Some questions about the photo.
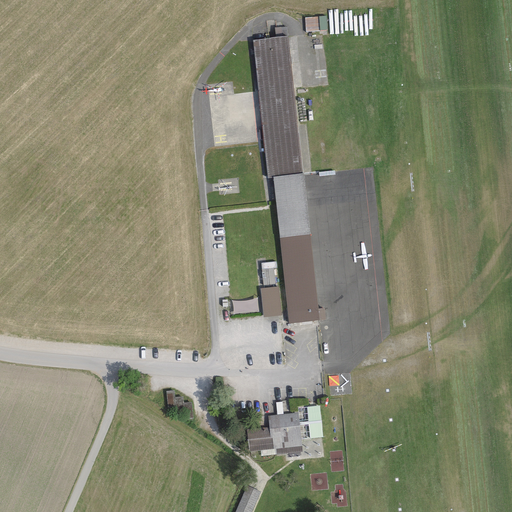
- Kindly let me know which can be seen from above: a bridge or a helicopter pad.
helicopter pad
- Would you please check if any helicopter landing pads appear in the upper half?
Yes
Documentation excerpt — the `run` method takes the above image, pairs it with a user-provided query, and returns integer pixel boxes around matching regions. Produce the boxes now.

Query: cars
[286,386,292,398]
[272,321,276,334]
[212,230,225,234]
[246,354,252,366]
[254,401,260,412]
[214,244,224,248]
[276,352,282,364]
[214,236,224,241]
[270,354,275,364]
[284,336,296,344]
[283,328,295,336]
[224,310,230,320]
[211,214,223,220]
[176,350,182,360]
[218,281,229,286]
[324,342,328,354]
[212,222,224,228]
[274,387,280,399]
[193,350,198,362]
[264,402,268,414]
[240,402,245,411]
[153,348,158,358]
[253,33,264,38]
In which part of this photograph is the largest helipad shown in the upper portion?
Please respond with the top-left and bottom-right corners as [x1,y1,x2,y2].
[207,82,258,146]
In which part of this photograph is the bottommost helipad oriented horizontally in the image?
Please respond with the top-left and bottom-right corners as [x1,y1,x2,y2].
[206,178,240,194]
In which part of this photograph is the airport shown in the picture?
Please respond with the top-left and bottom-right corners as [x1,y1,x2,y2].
[304,0,512,512]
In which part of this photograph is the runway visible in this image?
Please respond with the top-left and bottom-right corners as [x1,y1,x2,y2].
[392,0,512,512]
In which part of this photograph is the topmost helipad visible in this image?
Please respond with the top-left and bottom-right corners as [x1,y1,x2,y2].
[313,68,328,80]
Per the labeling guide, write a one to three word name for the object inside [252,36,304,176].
hangar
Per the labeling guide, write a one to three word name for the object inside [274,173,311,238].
hangar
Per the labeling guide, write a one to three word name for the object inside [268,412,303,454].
house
